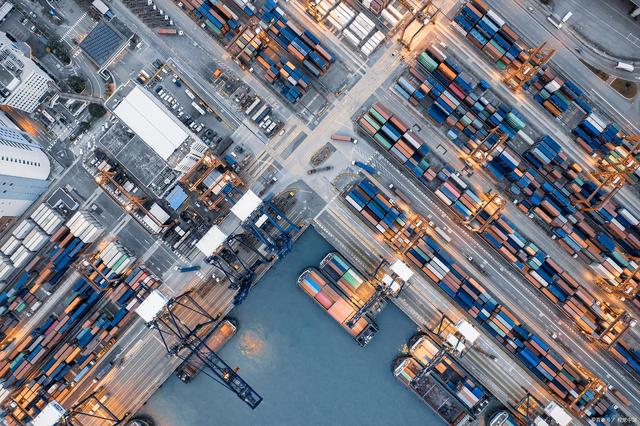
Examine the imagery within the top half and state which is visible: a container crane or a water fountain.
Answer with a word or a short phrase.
container crane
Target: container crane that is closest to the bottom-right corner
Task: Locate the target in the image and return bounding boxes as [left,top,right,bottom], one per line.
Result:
[551,367,611,419]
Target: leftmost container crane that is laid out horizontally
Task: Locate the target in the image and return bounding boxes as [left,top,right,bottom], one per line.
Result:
[32,373,139,426]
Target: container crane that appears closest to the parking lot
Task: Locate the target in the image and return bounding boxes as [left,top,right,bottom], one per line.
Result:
[181,155,229,198]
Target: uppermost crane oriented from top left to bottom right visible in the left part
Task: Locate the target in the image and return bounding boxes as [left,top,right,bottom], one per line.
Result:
[93,167,145,206]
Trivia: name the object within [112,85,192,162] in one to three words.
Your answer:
building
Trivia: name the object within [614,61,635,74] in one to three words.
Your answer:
vehicle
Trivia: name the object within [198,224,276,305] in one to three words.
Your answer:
container crane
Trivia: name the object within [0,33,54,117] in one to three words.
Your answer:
building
